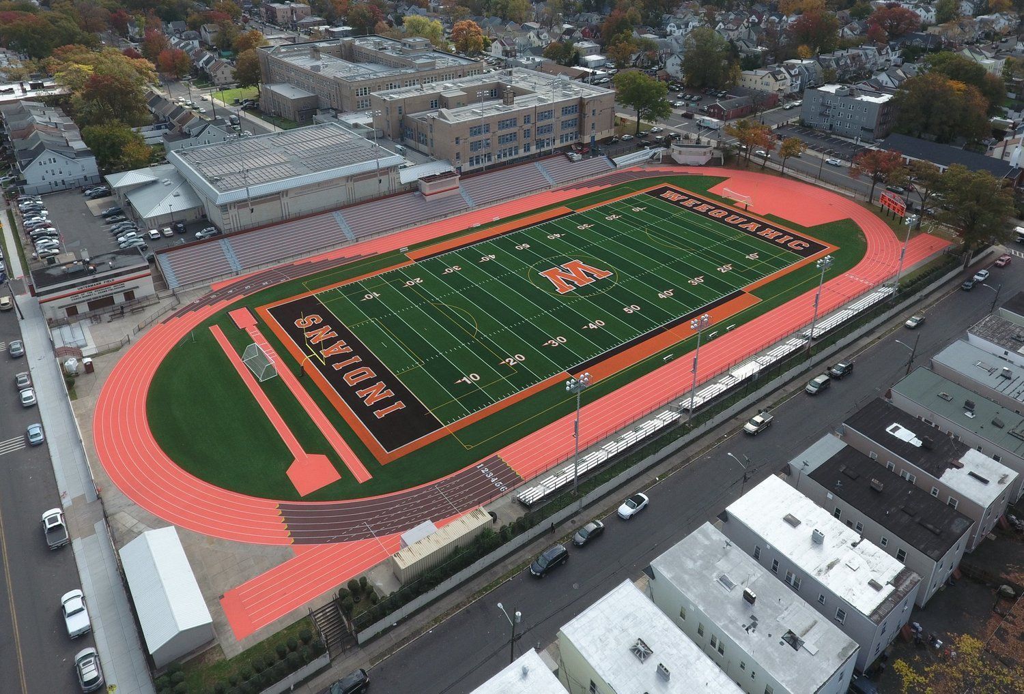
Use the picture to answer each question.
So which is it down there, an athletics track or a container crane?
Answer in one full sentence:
The image shows an athletics track.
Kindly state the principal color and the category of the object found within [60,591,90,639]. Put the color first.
white truck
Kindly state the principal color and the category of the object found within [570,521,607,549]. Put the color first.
gray car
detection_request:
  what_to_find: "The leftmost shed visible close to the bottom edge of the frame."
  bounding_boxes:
[121,529,242,694]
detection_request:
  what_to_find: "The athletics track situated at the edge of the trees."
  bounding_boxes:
[96,167,949,642]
